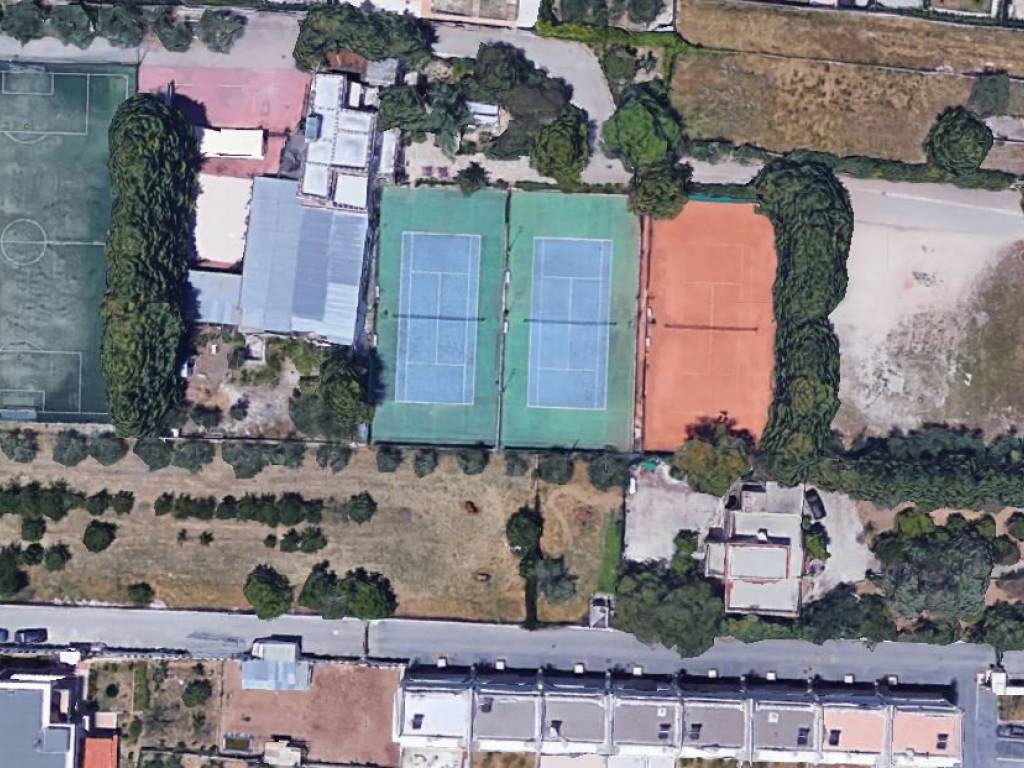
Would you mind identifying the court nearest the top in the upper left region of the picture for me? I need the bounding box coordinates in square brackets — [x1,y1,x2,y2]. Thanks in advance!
[138,67,311,178]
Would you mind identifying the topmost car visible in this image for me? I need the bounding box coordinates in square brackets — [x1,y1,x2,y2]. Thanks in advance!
[807,487,825,520]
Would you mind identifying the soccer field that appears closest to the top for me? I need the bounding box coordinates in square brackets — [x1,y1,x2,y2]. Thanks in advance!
[0,63,135,416]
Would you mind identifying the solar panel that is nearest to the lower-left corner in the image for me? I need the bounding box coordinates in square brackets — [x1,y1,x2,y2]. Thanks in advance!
[412,714,425,731]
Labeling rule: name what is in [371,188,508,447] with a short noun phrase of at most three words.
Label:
tennis court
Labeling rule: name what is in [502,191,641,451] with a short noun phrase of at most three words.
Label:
tennis court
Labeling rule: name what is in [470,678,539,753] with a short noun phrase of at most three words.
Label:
house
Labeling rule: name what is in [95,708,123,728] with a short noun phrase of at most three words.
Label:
shed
